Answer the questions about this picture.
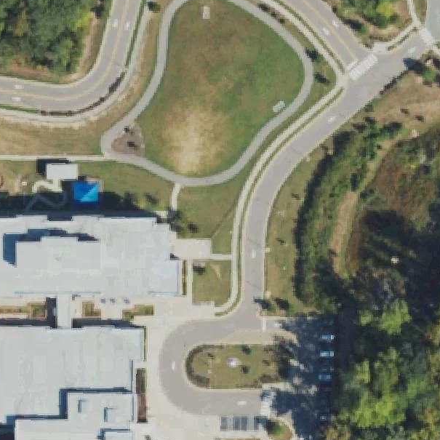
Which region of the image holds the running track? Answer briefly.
top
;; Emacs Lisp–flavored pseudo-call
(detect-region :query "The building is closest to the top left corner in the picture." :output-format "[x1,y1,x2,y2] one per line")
[47,164,77,179]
